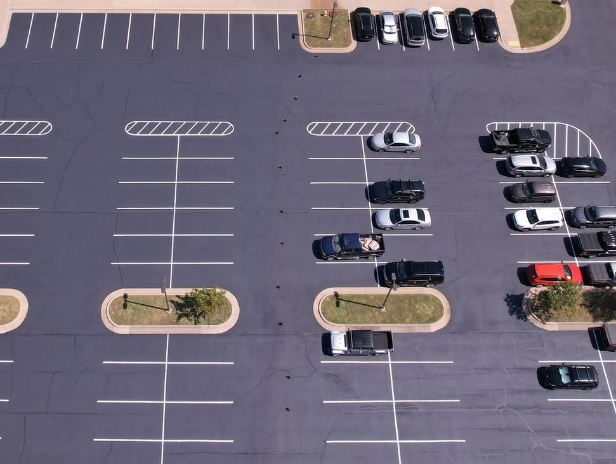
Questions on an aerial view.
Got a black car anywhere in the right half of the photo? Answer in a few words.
Yes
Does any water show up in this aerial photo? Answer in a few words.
No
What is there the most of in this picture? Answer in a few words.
paved ground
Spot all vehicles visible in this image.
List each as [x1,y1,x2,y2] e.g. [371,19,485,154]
[526,259,580,287]
[371,131,421,153]
[403,10,426,46]
[382,258,445,287]
[510,206,565,231]
[579,261,616,288]
[426,7,448,42]
[567,203,616,228]
[321,232,384,258]
[503,152,557,177]
[538,362,599,391]
[555,156,608,178]
[376,206,429,231]
[572,231,616,257]
[378,10,400,45]
[327,327,396,356]
[503,180,561,205]
[598,324,616,352]
[474,8,498,44]
[489,127,551,153]
[371,178,425,203]
[452,8,477,43]
[352,6,375,43]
